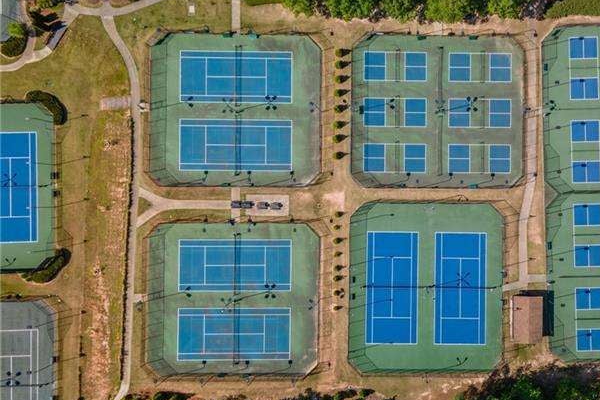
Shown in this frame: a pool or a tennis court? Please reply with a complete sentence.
There is a tennis court in the scene.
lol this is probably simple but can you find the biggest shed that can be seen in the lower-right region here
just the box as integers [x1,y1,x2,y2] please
[511,295,544,343]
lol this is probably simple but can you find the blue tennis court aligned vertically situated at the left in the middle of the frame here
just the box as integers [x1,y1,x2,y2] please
[0,130,41,243]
